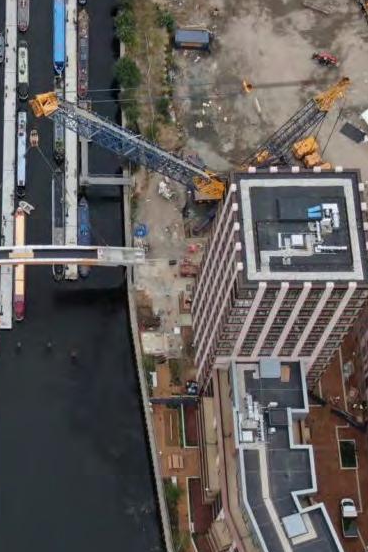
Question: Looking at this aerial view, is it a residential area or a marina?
marina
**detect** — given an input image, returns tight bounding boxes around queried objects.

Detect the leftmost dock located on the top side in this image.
[0,0,17,330]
